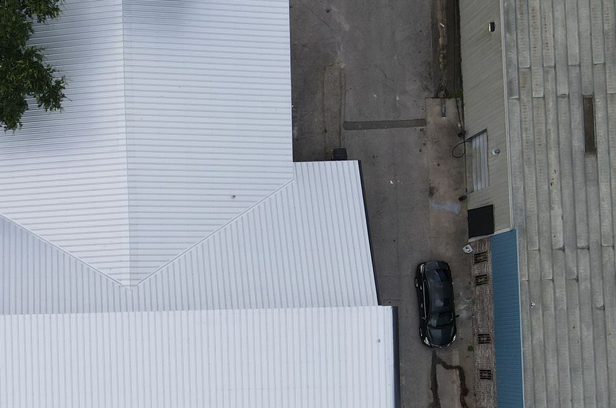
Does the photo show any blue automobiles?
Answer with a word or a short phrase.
No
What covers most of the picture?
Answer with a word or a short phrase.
buildings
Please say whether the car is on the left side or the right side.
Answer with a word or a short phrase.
right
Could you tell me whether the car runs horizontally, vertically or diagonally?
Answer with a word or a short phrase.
vertically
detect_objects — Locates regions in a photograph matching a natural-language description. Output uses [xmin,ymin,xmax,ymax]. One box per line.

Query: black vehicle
[417,259,463,346]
